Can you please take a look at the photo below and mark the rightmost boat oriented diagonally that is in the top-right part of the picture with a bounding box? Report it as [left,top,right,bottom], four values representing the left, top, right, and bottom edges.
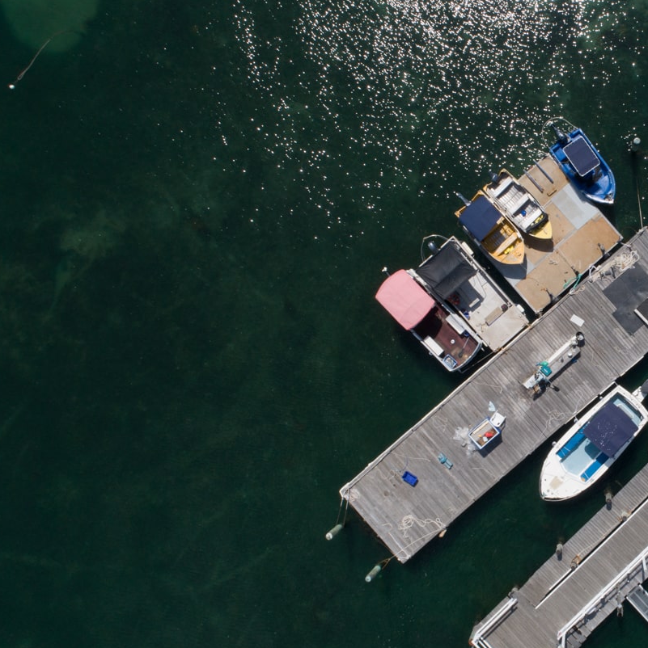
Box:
[541,116,615,204]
